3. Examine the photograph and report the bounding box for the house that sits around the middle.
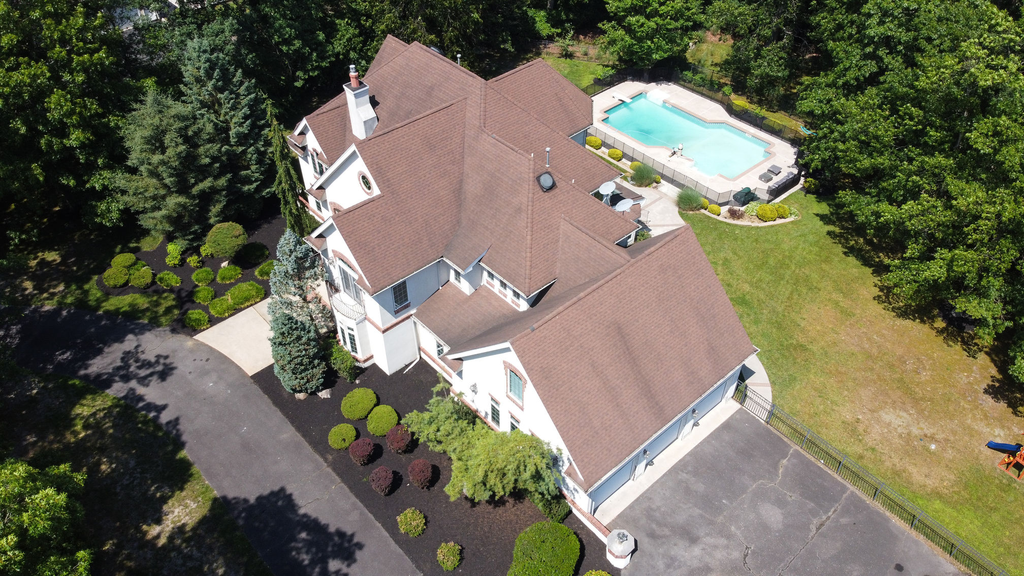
[287,33,758,519]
